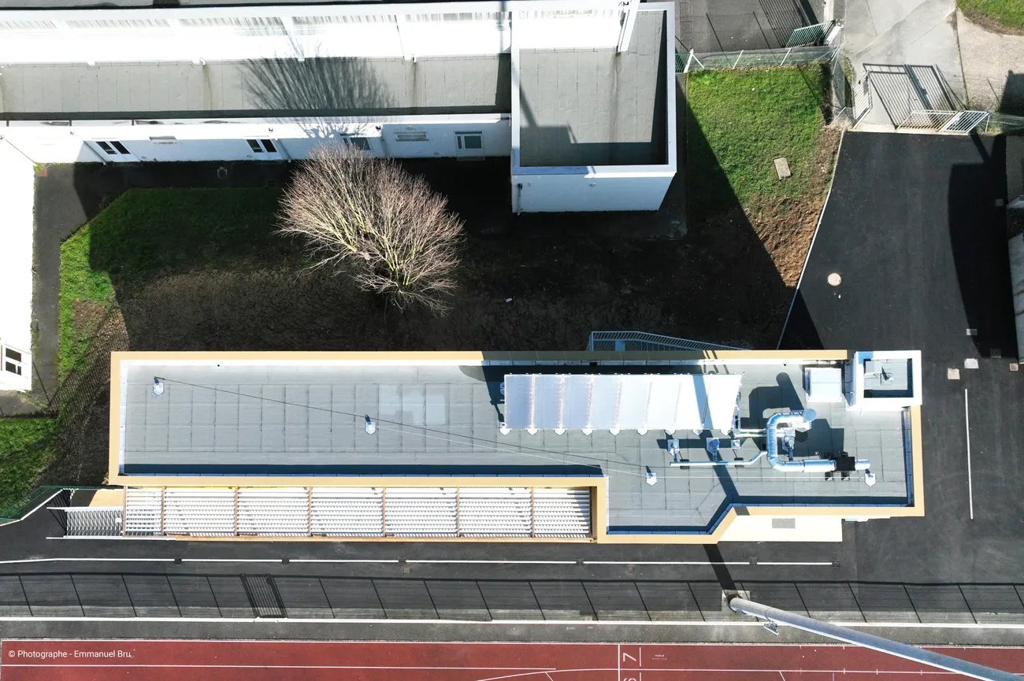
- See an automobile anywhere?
No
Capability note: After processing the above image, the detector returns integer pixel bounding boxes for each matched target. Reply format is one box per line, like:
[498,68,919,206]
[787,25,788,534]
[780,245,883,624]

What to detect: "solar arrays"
[500,373,743,435]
